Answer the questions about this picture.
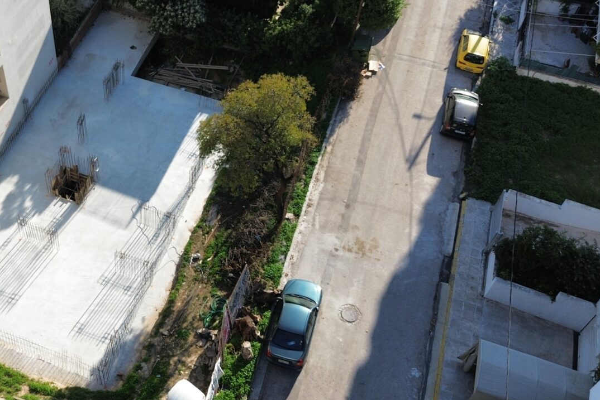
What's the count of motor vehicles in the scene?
3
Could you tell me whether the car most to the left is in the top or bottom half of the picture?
bottom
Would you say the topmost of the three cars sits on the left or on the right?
right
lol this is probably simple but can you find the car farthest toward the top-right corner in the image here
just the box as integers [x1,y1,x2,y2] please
[455,29,493,70]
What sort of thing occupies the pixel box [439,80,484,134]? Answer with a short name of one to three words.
car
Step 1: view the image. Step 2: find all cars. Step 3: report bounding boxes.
[439,80,484,134]
[455,29,493,70]
[263,274,324,370]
